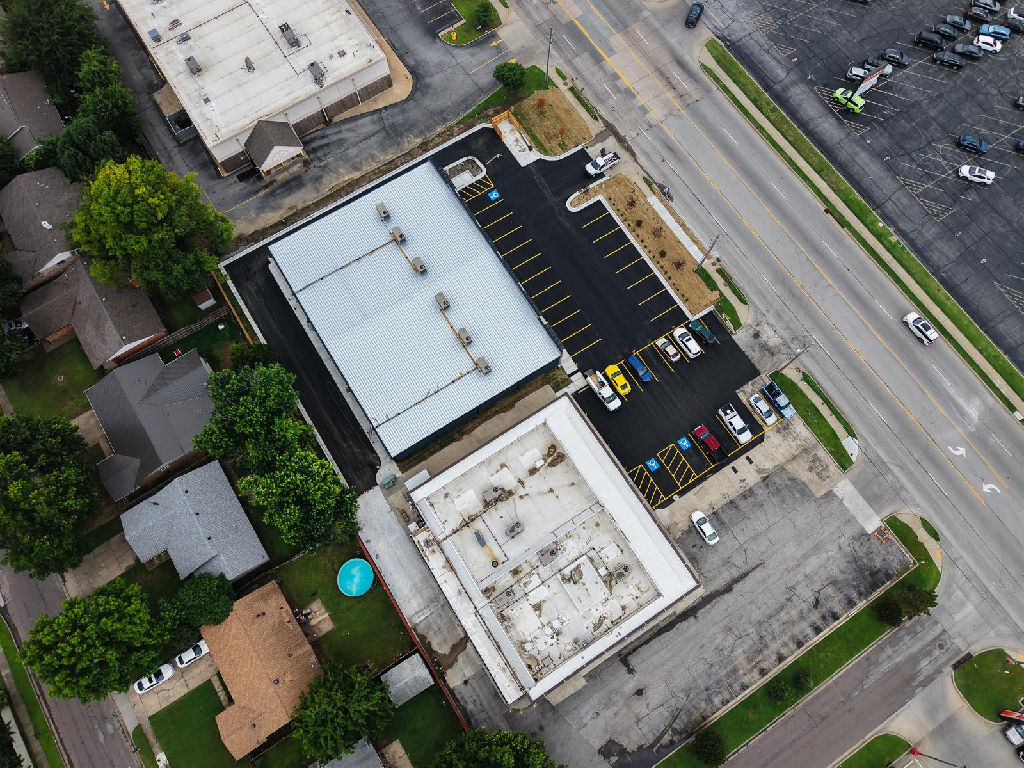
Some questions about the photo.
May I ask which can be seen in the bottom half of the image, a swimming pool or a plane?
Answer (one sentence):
It is a swimming pool that can be seen in the bottom half of the image.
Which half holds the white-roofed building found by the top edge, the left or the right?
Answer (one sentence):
The white-roofed building found by the top edge sits on the left side.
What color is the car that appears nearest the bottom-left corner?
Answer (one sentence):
The color of the car that appears nearest the bottom-left corner is white.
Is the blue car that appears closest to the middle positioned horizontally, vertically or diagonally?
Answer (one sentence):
In this picture, the blue car that appears closest to the middle is oriented diagonally.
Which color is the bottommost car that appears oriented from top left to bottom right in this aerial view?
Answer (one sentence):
From above, the bottommost car that appears oriented from top left to bottom right appears white.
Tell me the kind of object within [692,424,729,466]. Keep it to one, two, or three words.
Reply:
truck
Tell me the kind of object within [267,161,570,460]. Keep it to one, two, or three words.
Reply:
building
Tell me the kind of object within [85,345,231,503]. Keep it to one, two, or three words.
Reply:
house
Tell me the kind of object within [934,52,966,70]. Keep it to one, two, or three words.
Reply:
car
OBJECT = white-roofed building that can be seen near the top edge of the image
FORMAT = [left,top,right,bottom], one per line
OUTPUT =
[122,0,392,176]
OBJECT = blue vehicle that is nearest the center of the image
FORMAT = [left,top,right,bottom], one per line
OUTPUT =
[627,353,653,383]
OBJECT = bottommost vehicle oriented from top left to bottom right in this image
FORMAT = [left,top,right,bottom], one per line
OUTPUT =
[691,509,721,547]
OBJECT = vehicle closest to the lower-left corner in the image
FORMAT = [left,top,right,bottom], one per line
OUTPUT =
[133,662,175,696]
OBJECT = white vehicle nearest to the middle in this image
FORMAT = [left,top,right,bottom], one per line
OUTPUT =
[586,370,621,411]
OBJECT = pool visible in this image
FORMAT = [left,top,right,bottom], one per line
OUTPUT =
[335,555,381,598]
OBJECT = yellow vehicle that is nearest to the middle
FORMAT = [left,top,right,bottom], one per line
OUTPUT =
[606,364,632,396]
